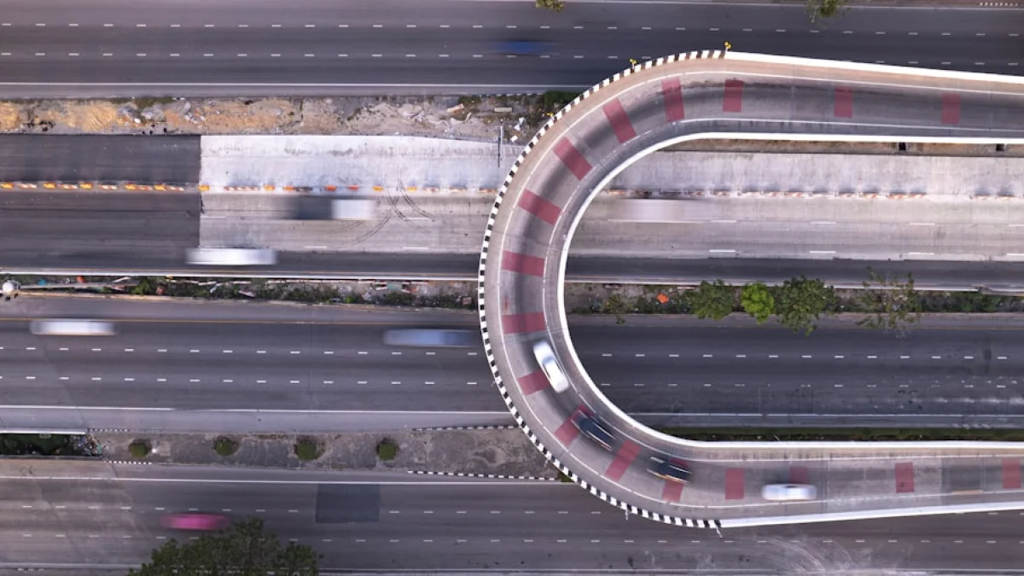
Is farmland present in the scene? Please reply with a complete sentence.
No, there's no farmland in this view.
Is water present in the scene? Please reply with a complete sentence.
No, water can't be seen anywhere here.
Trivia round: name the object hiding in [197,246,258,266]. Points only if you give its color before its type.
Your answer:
white vehicle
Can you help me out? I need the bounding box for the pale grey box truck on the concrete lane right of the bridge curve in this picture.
[620,199,697,223]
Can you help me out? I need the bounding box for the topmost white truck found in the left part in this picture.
[294,196,374,221]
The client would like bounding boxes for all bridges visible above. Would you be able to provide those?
[478,51,1024,528]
